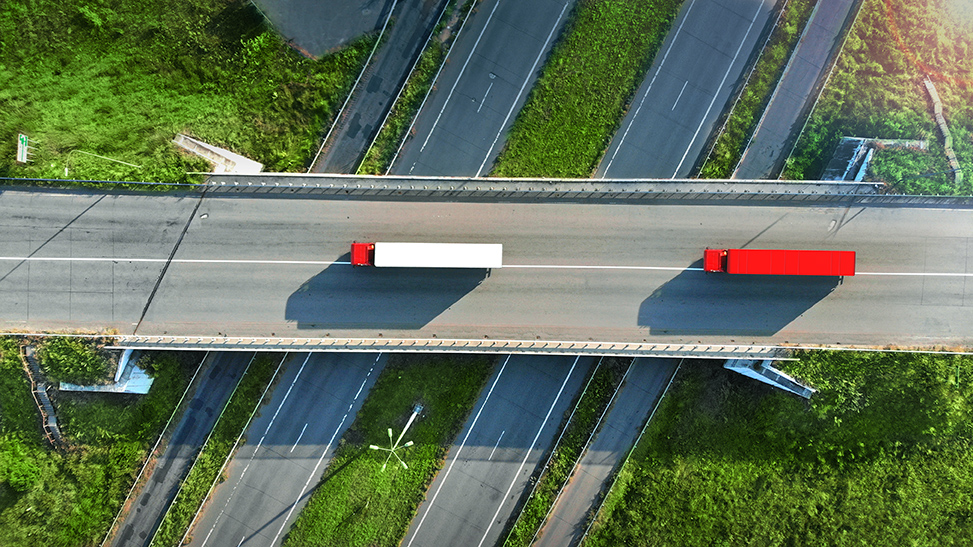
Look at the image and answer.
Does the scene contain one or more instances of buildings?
No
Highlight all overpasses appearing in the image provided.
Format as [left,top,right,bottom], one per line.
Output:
[103,174,882,358]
